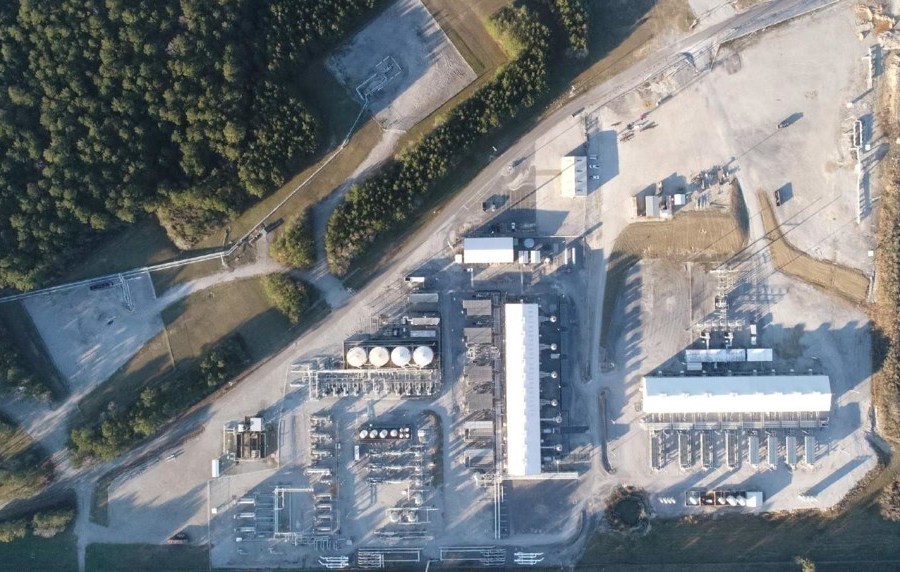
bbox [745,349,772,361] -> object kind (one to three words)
building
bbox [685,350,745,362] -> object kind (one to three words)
building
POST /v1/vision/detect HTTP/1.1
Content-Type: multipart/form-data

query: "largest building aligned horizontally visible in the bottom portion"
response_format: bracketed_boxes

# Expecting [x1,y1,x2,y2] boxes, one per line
[640,373,833,412]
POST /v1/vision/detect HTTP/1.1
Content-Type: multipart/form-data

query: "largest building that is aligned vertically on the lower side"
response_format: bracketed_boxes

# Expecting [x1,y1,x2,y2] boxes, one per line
[504,303,542,476]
